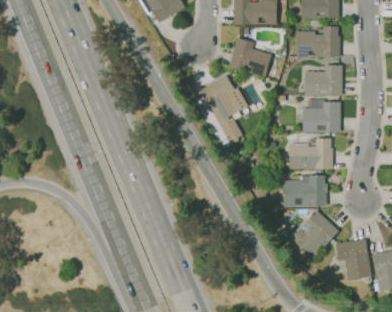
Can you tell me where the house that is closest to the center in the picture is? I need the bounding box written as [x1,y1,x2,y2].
[200,74,246,144]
